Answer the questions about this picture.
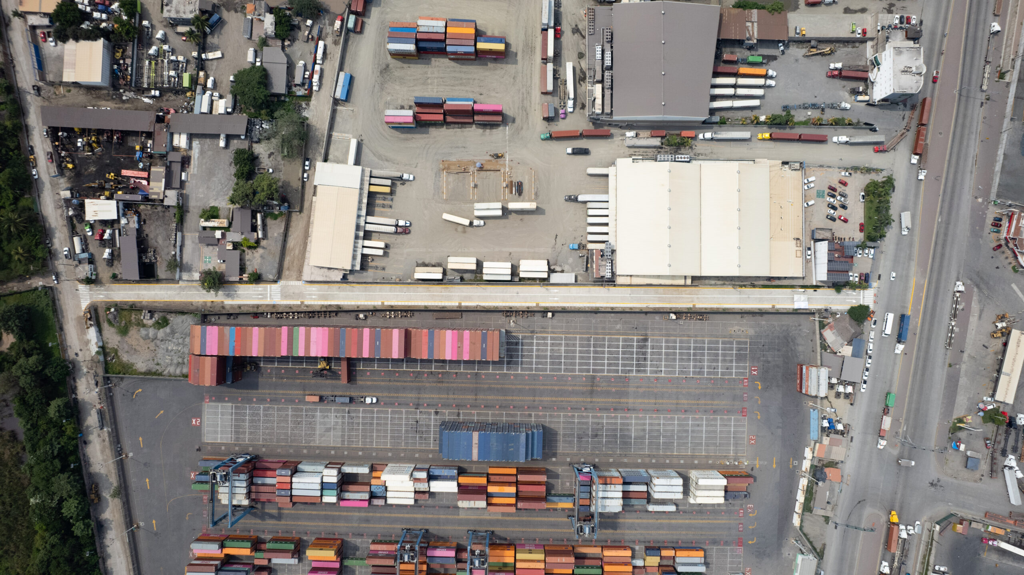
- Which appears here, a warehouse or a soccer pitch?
warehouse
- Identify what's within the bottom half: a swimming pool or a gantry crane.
gantry crane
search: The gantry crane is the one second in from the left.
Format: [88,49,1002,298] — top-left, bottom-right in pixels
[394,526,429,575]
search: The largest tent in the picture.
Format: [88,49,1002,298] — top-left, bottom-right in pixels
[788,291,811,310]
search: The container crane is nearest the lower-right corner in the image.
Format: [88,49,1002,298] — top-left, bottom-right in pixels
[565,461,601,543]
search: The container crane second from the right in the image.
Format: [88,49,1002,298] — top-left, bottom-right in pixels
[465,528,495,575]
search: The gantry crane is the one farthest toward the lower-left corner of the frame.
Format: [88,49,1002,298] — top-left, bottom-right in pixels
[206,452,259,529]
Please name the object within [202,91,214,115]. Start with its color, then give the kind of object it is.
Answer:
white vehicle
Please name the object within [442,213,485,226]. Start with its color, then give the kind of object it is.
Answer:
white vehicle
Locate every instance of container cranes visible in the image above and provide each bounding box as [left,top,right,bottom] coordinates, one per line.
[465,528,495,575]
[394,526,429,575]
[565,461,601,543]
[206,452,259,529]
